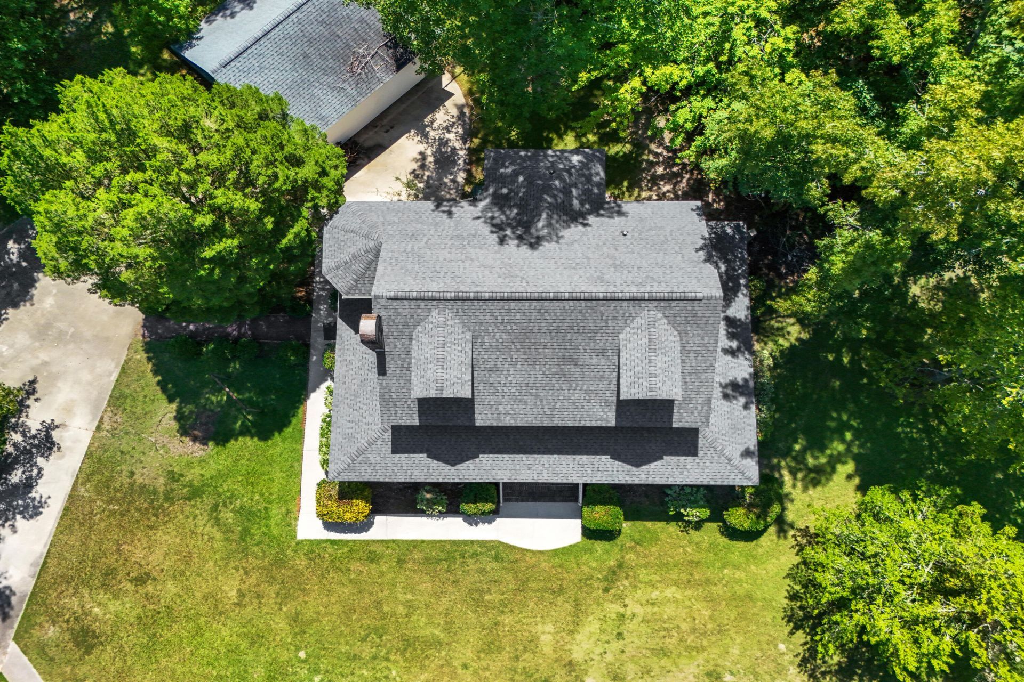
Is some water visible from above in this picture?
No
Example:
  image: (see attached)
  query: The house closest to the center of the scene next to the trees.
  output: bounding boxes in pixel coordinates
[320,147,761,488]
